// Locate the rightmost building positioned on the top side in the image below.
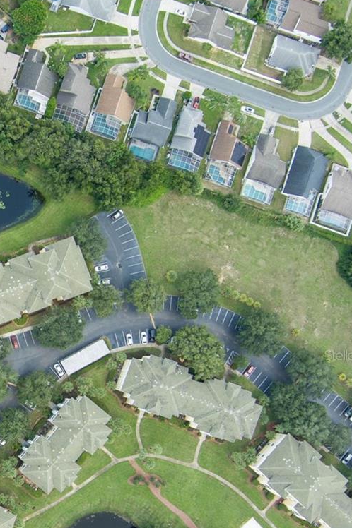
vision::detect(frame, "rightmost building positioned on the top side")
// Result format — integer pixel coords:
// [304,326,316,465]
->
[317,163,352,219]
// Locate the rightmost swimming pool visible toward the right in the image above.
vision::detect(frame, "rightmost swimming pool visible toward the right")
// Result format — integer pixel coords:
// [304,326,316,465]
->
[312,211,351,236]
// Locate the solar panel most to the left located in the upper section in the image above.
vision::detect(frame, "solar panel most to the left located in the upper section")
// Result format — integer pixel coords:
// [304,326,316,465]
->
[193,126,210,154]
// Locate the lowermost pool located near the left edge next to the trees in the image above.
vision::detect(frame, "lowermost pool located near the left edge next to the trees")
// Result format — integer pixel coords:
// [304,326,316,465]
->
[13,87,50,117]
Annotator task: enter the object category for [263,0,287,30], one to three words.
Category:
swimming pool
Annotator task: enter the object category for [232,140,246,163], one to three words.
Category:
solar panel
